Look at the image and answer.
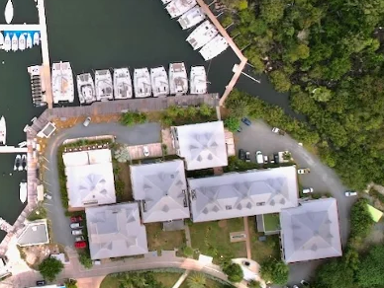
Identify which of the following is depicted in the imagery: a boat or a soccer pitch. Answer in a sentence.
It is a boat that can be seen here.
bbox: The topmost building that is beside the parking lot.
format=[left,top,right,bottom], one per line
[169,120,235,171]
